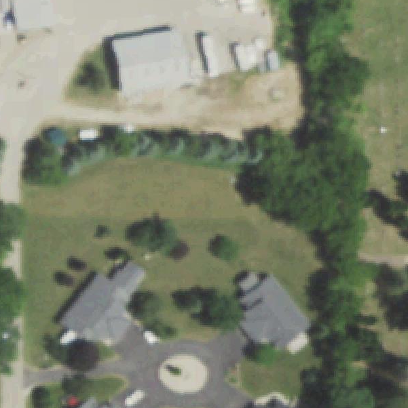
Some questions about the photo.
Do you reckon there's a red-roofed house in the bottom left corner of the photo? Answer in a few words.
No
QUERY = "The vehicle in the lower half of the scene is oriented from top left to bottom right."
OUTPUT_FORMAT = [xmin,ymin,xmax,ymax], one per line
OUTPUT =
[143,331,159,345]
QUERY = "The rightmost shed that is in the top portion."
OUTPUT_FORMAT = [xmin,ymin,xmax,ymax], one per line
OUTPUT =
[108,25,190,95]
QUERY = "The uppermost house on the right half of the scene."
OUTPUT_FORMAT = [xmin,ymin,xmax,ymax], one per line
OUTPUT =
[234,272,307,352]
